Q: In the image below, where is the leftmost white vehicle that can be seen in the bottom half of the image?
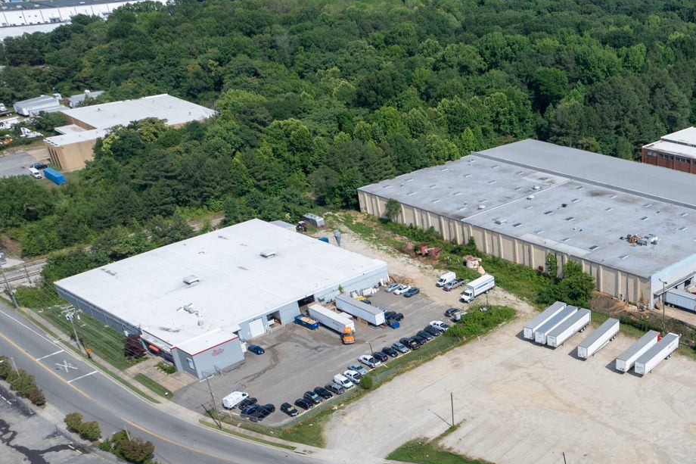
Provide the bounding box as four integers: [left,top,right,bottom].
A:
[219,388,251,410]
